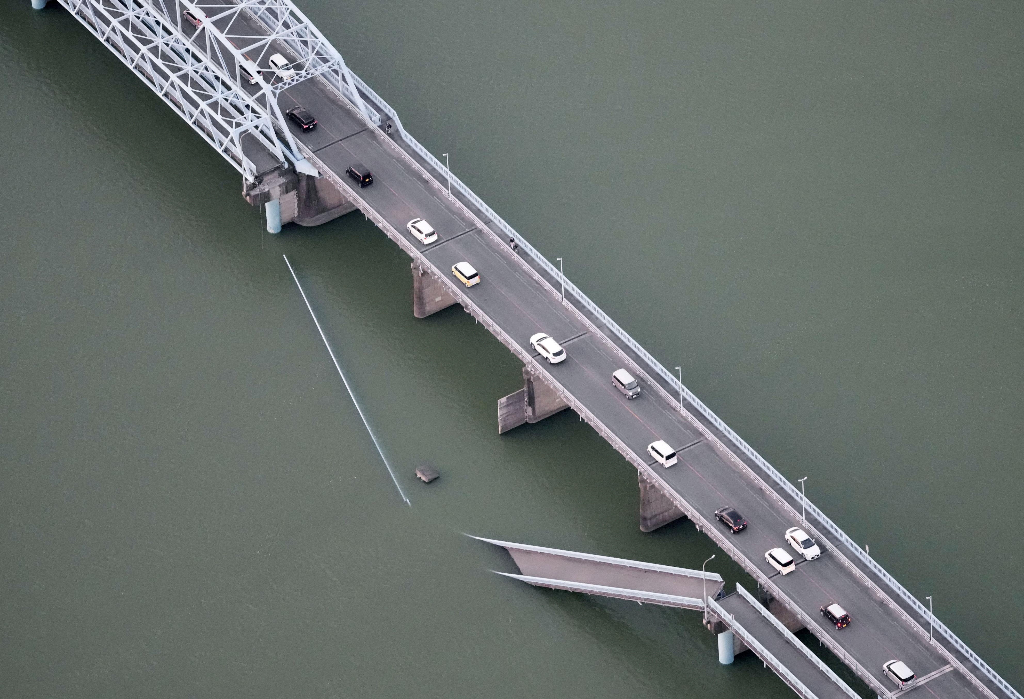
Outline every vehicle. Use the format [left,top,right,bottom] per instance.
[883,662,915,690]
[452,263,481,288]
[784,526,824,561]
[407,219,439,246]
[284,103,320,133]
[530,333,568,365]
[715,505,752,536]
[611,367,641,400]
[345,161,373,187]
[647,441,678,468]
[269,52,297,82]
[820,602,852,630]
[181,8,211,34]
[764,547,795,575]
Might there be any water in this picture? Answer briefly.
Yes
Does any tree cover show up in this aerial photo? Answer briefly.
No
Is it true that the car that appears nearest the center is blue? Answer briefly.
No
